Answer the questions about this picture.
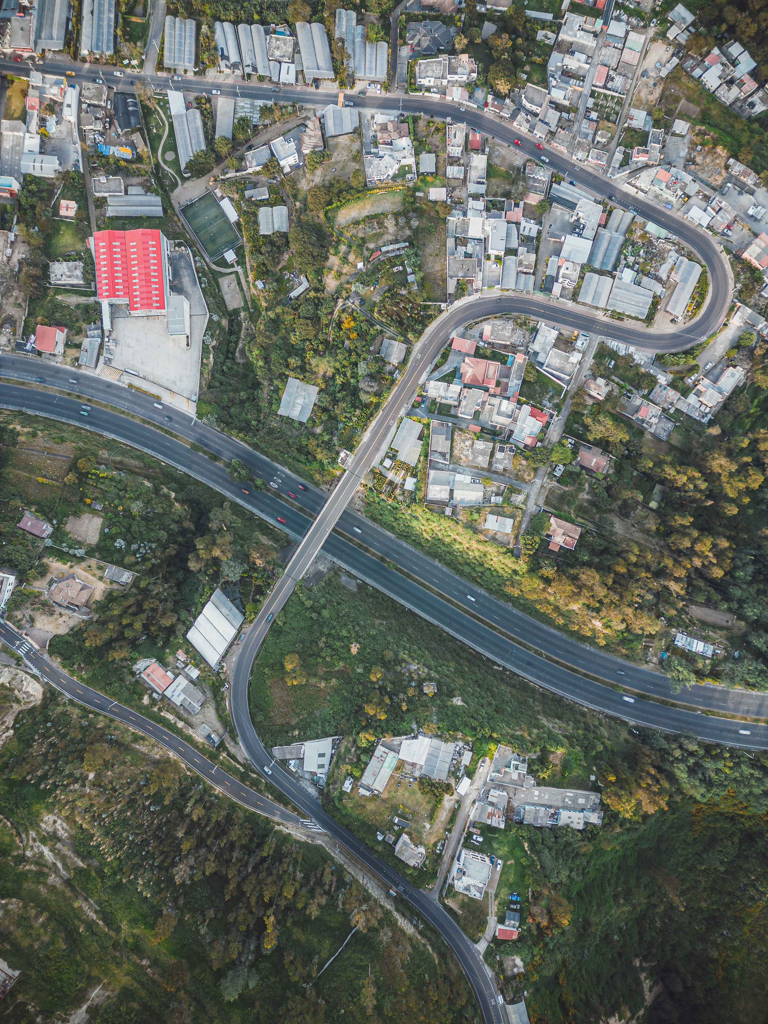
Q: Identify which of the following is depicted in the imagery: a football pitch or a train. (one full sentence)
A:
This aerial view contains a football pitch.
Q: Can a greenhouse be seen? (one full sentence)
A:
Yes, I can see a greenhouse in this picture.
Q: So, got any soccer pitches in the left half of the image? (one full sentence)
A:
Yes, you'll find a soccer pitch in the left half of the image.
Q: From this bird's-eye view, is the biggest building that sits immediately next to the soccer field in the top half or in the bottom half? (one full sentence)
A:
The biggest building that sits immediately next to the soccer field is in the top half of the image.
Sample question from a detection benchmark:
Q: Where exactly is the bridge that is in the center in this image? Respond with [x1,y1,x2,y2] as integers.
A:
[283,469,362,582]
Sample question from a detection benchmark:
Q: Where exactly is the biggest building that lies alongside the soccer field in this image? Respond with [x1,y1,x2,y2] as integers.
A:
[94,229,169,315]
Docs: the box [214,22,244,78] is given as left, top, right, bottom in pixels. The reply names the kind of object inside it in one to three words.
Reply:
greenhouse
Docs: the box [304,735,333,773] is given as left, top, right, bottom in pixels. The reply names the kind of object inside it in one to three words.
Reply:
shed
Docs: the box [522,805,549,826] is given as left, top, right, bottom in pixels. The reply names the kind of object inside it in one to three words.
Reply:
shed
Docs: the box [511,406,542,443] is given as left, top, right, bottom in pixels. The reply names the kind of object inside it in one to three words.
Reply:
house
